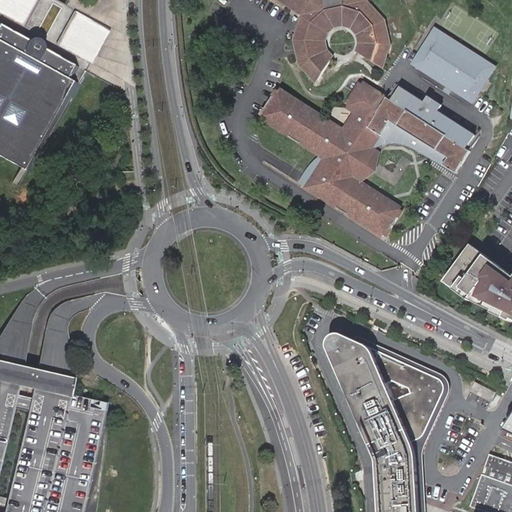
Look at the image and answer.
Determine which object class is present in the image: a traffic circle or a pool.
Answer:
traffic circle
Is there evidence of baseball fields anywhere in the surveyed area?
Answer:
No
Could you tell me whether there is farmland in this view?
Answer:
No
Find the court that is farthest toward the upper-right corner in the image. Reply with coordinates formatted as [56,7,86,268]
[440,3,499,54]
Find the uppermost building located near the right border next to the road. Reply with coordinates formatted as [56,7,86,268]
[410,22,498,105]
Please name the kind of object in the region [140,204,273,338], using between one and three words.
roundabout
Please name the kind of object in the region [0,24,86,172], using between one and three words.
building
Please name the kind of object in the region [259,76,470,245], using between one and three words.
building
